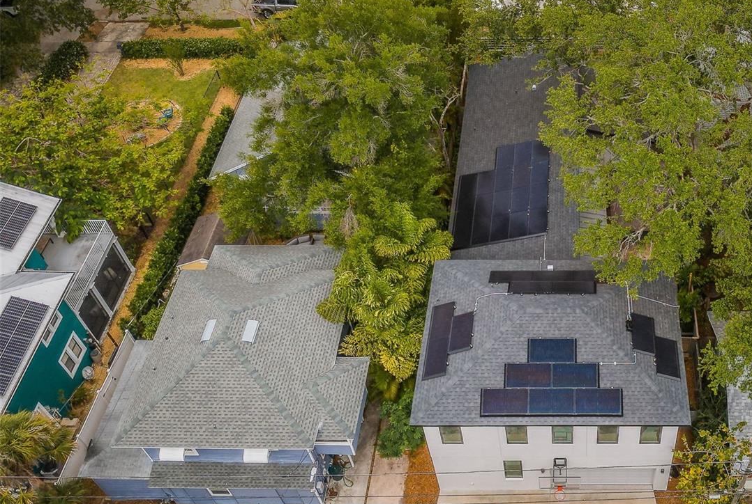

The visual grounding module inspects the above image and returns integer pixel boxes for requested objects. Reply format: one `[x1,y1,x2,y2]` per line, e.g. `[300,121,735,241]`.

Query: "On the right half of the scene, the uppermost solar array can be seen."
[452,131,549,259]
